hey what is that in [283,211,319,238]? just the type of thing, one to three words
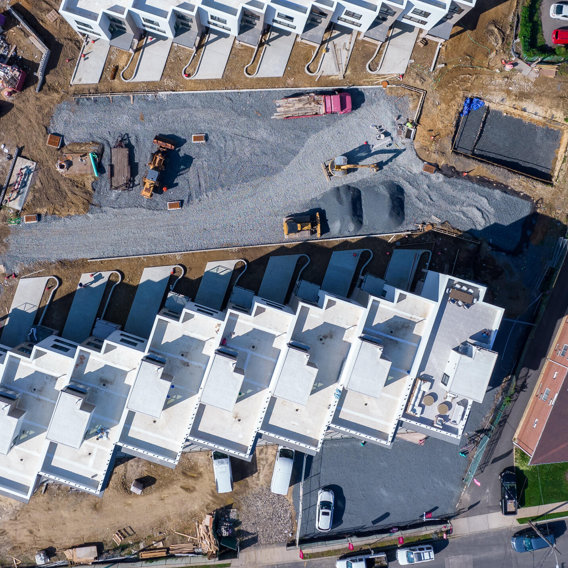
work vehicle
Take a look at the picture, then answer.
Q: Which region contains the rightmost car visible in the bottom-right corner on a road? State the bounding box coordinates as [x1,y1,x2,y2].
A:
[510,529,556,556]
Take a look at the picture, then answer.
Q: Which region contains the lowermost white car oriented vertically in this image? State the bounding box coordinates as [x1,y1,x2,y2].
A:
[315,489,337,532]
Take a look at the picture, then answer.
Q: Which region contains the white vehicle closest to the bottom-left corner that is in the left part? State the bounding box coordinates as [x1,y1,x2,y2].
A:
[211,450,233,498]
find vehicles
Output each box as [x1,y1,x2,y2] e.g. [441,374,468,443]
[336,551,390,568]
[396,545,436,568]
[317,152,379,184]
[271,445,297,499]
[290,89,352,118]
[283,211,319,238]
[510,529,556,556]
[137,134,175,199]
[315,489,337,532]
[497,469,518,518]
[548,5,568,21]
[211,450,233,498]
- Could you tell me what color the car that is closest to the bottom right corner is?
blue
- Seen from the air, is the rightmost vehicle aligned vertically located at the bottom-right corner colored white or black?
black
